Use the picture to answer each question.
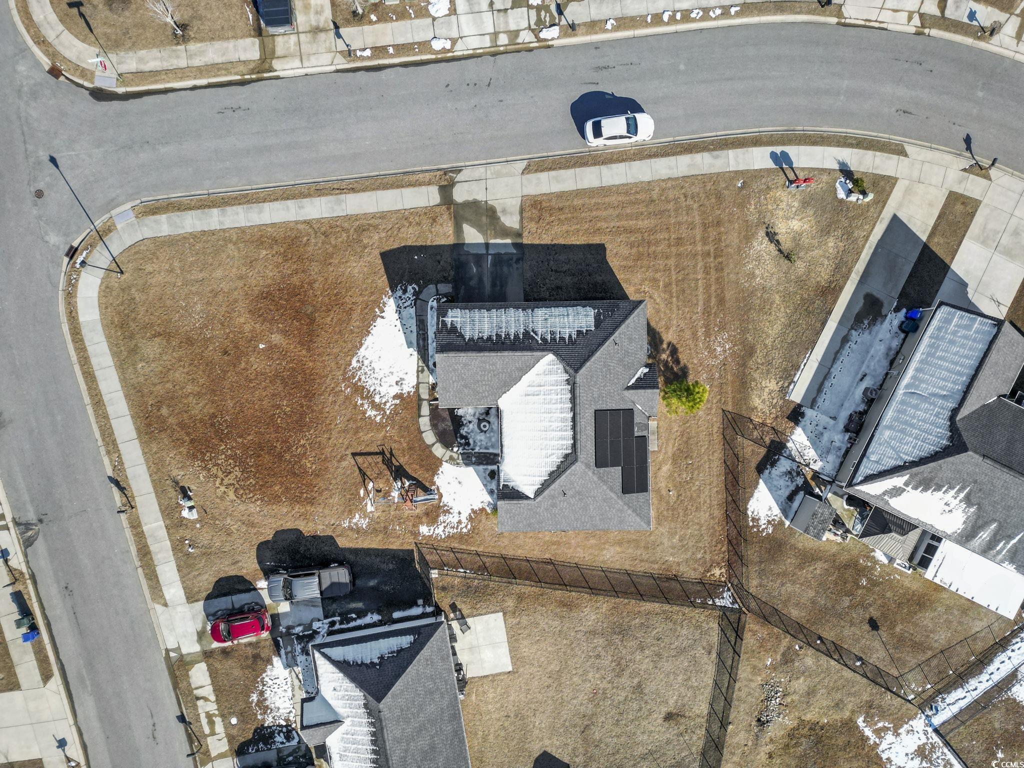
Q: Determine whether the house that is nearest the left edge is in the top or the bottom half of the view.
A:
bottom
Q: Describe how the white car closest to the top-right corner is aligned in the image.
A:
from side to side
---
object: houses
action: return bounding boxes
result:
[300,613,472,768]
[833,301,1024,580]
[434,299,661,533]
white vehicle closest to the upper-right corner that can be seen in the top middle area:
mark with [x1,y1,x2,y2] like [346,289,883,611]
[584,110,653,149]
